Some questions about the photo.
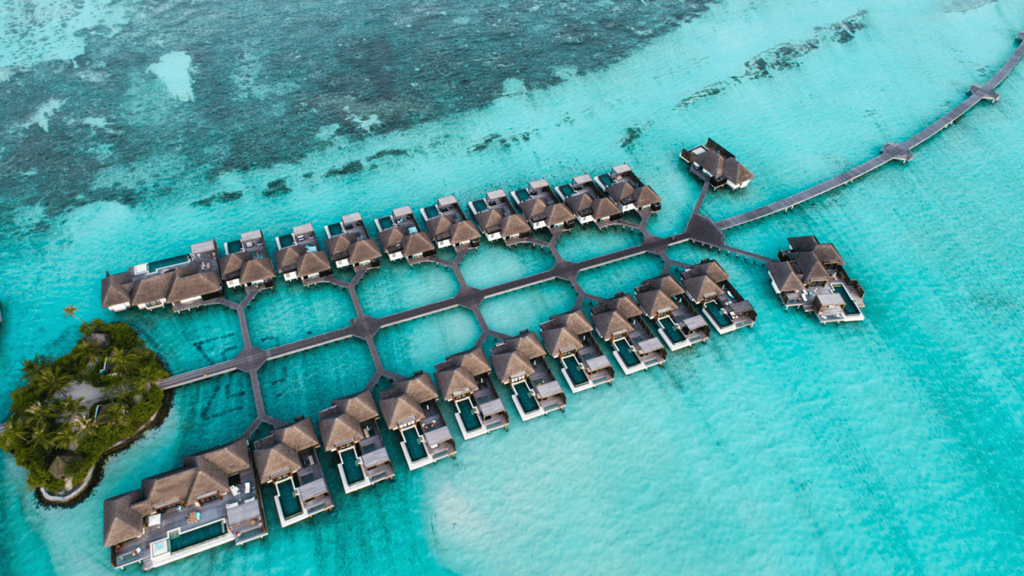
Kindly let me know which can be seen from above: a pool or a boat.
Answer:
pool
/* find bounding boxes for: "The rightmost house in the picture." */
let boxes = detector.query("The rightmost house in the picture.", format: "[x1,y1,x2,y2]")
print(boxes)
[760,234,869,329]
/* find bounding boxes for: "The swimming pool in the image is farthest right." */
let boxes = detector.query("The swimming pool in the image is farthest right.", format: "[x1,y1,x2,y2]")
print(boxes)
[827,284,864,323]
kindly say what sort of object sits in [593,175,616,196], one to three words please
swimming pool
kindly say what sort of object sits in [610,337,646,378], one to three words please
swimming pool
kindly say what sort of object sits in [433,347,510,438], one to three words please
house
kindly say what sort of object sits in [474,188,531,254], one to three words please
house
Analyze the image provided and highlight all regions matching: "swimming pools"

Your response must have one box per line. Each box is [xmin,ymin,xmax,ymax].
[610,337,646,378]
[593,175,616,196]
[375,217,397,233]
[559,354,594,396]
[511,379,545,424]
[654,316,691,354]
[338,445,371,496]
[454,397,487,443]
[689,146,707,156]
[276,234,298,251]
[700,301,737,338]
[511,190,532,211]
[325,223,346,239]
[554,185,576,206]
[275,475,310,530]
[400,424,434,473]
[420,206,441,222]
[468,200,490,221]
[225,240,246,254]
[827,284,864,323]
